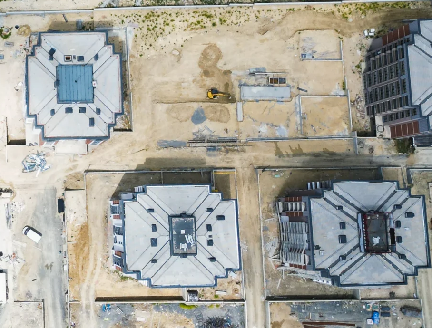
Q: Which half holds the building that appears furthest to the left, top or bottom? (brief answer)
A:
top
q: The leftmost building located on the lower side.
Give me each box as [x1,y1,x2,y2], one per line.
[114,185,240,288]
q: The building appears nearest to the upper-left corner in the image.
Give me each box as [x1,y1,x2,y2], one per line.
[25,31,124,154]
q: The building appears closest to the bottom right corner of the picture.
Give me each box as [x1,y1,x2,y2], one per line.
[281,181,432,285]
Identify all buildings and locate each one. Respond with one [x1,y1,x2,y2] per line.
[281,181,432,285]
[361,19,432,146]
[114,185,240,288]
[25,31,124,154]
